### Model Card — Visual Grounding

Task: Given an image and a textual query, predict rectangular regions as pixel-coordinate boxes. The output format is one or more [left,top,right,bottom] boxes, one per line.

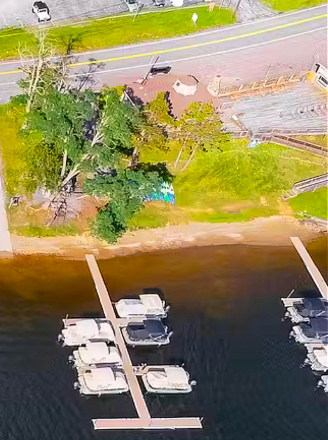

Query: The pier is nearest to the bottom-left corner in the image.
[61,254,205,432]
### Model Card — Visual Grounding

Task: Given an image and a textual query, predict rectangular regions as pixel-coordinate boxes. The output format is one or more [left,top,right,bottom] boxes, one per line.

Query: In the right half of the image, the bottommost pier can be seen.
[279,237,328,307]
